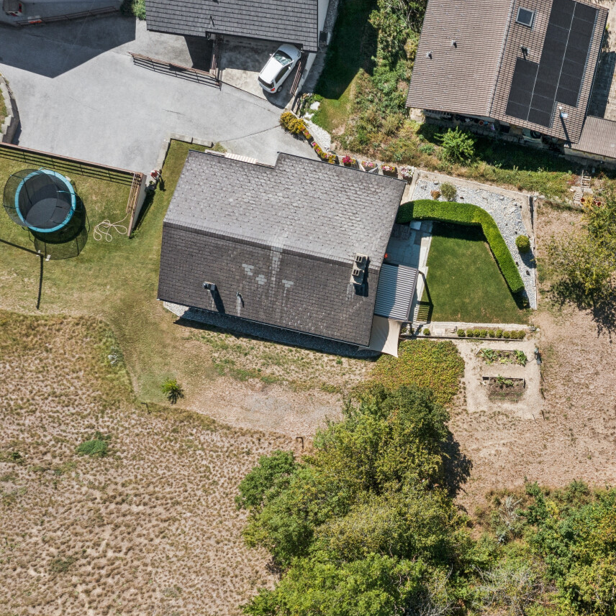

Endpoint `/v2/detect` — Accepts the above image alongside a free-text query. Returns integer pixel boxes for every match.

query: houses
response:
[157,148,406,350]
[405,0,608,146]
[141,0,330,52]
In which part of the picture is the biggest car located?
top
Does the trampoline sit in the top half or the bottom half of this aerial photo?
top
